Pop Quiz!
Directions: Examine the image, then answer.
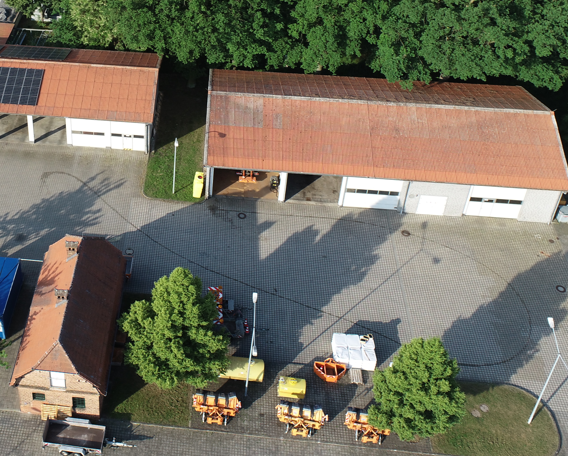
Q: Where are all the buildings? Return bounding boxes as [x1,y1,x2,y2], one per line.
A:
[8,233,130,421]
[203,67,568,226]
[0,44,162,153]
